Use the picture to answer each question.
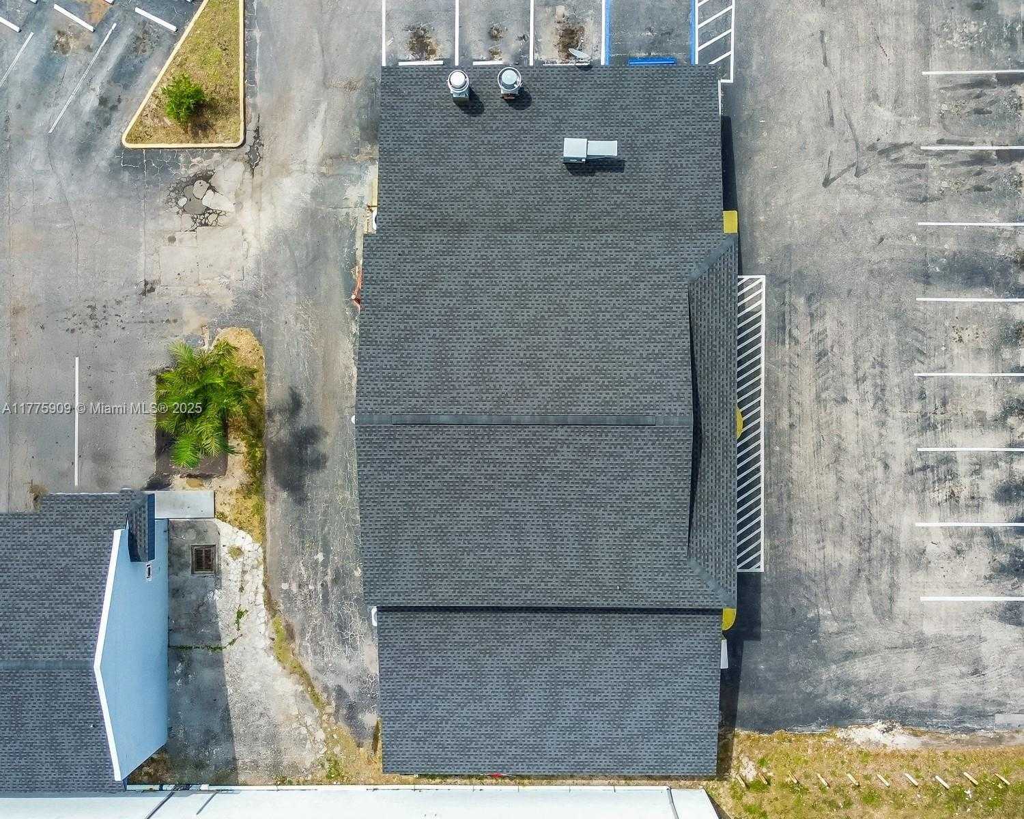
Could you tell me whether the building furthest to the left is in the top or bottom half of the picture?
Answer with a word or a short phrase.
bottom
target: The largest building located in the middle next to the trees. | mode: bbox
[356,65,739,776]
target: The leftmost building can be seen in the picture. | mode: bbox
[0,492,168,792]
